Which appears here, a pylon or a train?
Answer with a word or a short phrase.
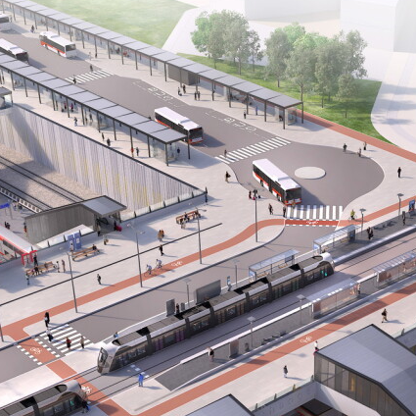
train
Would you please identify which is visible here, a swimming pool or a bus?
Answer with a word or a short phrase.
bus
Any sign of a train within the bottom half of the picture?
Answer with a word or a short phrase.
Yes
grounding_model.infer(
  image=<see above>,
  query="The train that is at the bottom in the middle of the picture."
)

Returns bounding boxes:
[95,255,334,375]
